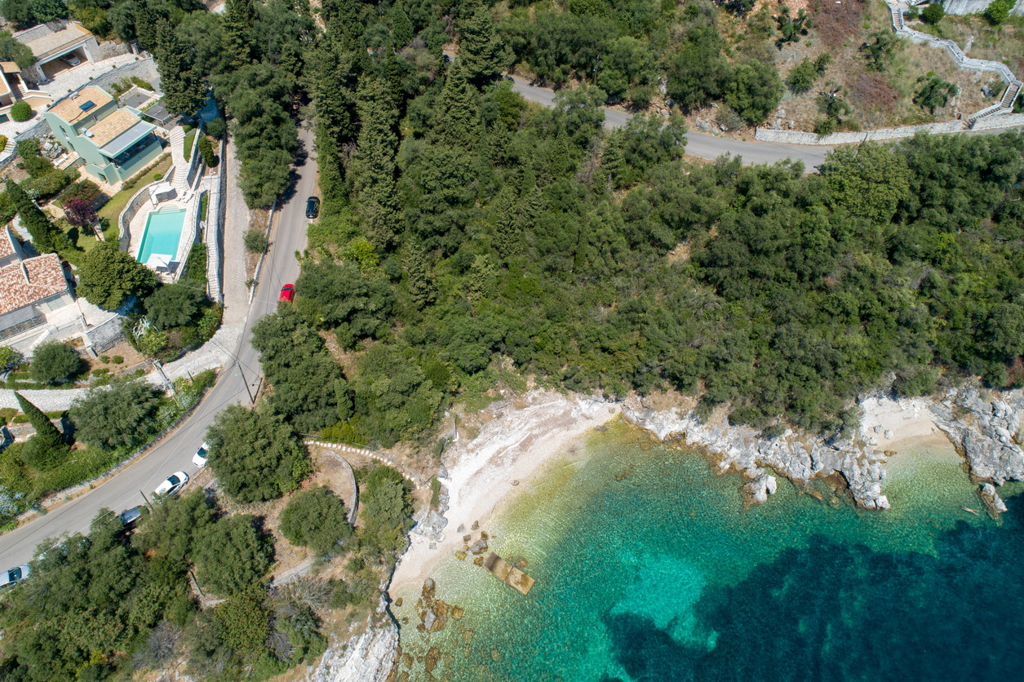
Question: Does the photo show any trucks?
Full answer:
No, the picture doesn't show any truck.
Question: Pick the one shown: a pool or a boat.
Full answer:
It is a pool that can be seen here.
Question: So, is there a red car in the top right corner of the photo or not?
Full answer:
No, looking in the top right corner of the photo, there is no red car.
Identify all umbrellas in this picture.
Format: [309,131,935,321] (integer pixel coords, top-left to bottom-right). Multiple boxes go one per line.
[143,252,176,275]
[147,179,174,210]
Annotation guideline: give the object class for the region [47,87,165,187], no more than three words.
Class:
building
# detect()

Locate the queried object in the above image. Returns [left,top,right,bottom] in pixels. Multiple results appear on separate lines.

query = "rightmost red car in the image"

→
[277,278,296,301]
